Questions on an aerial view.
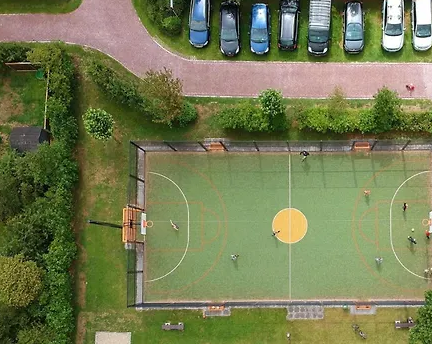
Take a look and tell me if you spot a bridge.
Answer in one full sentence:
No, the photo shows no bridge.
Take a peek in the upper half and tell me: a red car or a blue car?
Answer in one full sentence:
The one visible in the upper half is a blue car.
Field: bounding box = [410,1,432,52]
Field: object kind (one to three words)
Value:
car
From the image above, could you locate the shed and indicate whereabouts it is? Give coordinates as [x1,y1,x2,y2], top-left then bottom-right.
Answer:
[0,122,47,150]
